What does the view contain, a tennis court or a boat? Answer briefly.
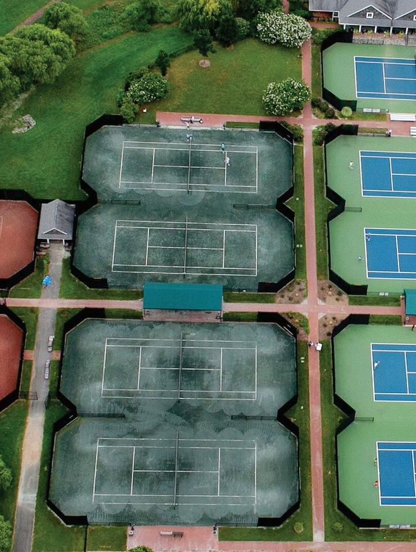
tennis court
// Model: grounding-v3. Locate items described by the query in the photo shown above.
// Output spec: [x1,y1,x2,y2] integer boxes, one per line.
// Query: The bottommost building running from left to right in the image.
[144,282,222,317]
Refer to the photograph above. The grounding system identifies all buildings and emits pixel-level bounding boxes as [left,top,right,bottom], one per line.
[308,0,416,35]
[144,282,222,317]
[37,197,77,249]
[403,288,416,322]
